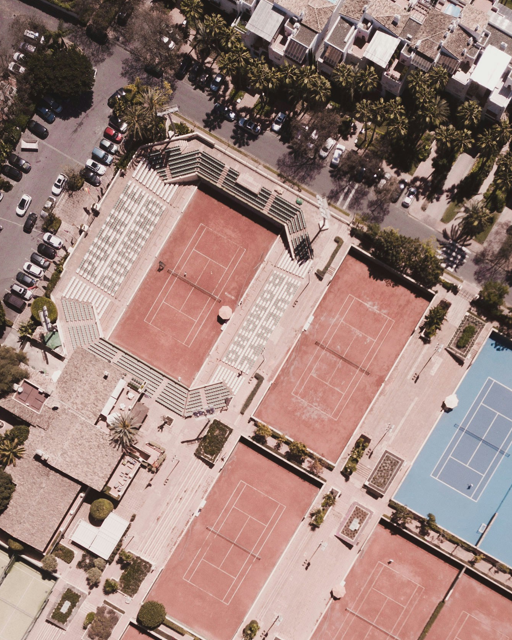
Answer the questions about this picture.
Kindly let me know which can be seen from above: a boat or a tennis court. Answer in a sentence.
The image shows a tennis court.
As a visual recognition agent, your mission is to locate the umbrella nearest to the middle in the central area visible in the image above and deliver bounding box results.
[219,306,232,319]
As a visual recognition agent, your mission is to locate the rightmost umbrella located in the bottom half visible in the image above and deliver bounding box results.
[445,394,458,409]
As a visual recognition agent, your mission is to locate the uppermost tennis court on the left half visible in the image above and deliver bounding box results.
[108,181,281,389]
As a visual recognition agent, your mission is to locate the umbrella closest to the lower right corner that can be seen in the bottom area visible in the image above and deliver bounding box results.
[332,585,345,598]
